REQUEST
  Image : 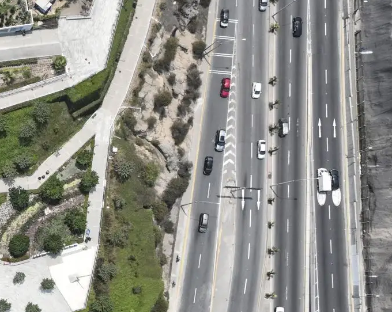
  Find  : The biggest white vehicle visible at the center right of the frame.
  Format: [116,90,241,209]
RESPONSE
[317,168,335,192]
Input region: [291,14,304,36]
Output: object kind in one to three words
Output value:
vehicle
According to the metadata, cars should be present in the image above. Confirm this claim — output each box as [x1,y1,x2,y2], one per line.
[219,7,230,28]
[198,212,210,233]
[220,77,231,98]
[278,116,290,139]
[255,139,267,159]
[250,80,261,99]
[257,0,268,12]
[291,14,304,36]
[329,168,341,190]
[203,155,214,175]
[215,129,227,151]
